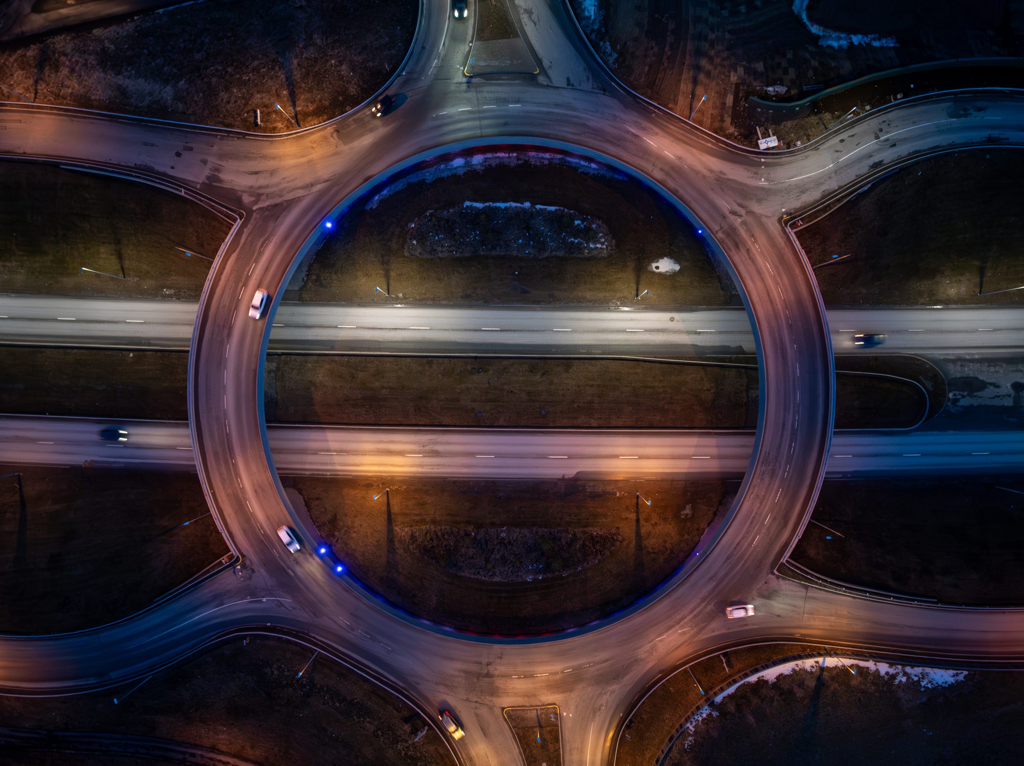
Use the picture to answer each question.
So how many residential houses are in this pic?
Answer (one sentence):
There are no residential houses in this view.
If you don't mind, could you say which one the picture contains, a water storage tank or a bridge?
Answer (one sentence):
I can see a bridge in this picture.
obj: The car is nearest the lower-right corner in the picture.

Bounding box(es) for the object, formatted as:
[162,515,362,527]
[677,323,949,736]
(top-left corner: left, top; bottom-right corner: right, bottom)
[725,604,755,619]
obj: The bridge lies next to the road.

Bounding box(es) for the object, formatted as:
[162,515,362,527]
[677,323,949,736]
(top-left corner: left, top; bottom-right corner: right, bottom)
[184,96,840,687]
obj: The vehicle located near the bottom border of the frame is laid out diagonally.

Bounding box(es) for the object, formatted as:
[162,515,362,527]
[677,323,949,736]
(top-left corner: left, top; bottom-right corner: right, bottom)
[440,709,464,740]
